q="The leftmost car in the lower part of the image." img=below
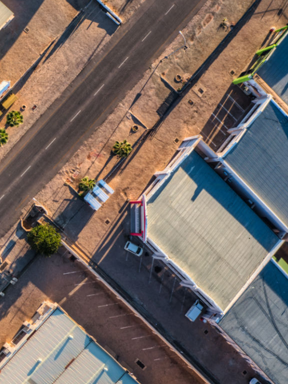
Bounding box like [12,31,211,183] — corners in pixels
[121,239,145,257]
